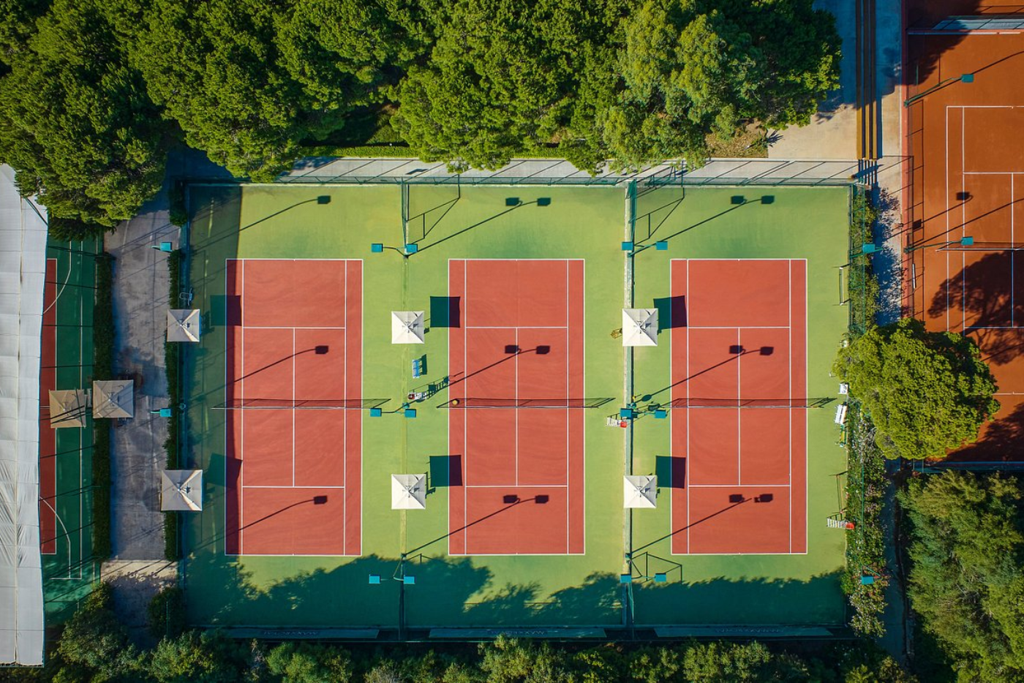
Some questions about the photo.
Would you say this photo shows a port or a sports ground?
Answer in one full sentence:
It's a sports ground.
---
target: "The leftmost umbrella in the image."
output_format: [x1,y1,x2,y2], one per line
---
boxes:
[51,389,89,427]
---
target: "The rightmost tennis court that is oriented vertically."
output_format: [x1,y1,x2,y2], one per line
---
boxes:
[909,34,1024,462]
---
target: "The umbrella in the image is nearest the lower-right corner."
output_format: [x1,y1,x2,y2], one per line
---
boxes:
[623,473,657,507]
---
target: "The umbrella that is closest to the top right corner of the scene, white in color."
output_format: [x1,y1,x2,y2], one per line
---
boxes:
[622,309,658,345]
